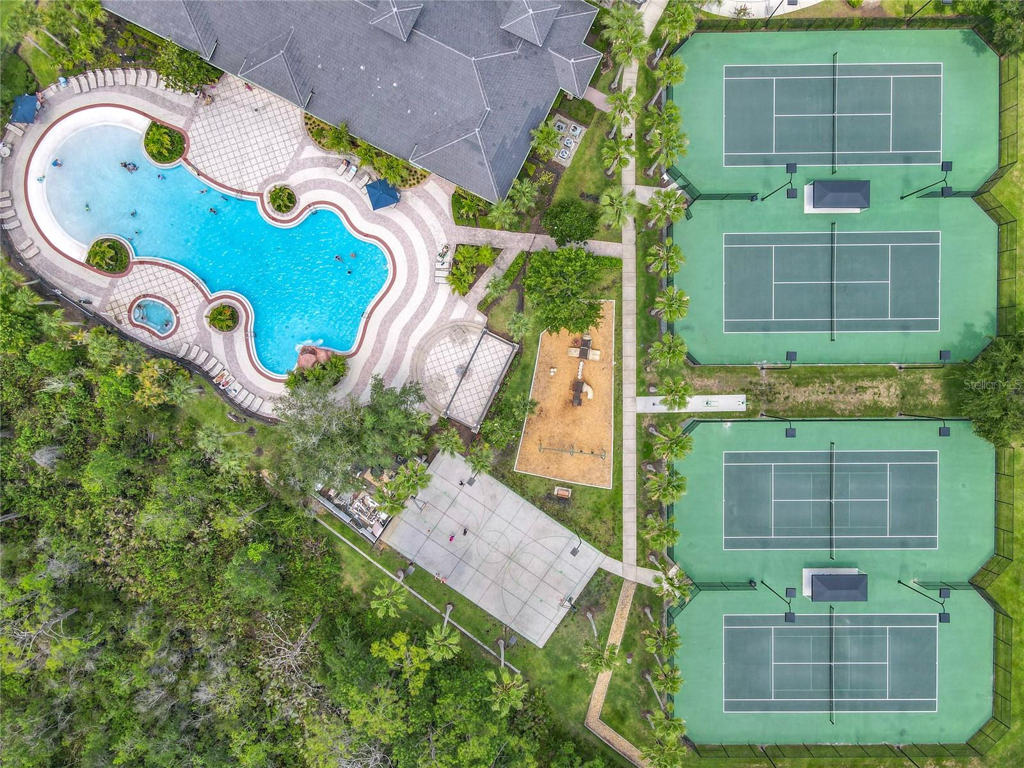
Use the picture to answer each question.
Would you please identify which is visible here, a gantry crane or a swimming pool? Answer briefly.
swimming pool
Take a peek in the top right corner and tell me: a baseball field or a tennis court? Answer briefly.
tennis court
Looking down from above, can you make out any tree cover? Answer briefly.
Yes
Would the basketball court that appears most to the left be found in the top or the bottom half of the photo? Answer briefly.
bottom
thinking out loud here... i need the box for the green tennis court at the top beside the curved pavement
[673,30,999,197]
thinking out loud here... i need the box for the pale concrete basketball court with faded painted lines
[380,450,599,648]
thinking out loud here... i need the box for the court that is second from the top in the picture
[673,195,999,365]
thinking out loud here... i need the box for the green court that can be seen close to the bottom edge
[673,581,994,745]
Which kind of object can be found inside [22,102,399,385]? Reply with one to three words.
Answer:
swimming pool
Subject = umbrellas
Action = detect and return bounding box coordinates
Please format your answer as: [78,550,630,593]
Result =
[366,179,400,211]
[12,96,44,124]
